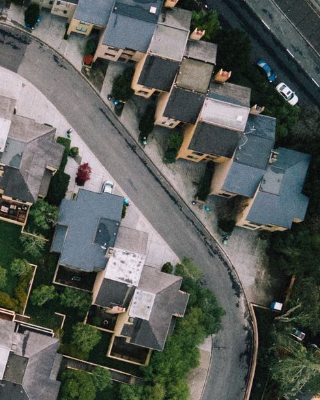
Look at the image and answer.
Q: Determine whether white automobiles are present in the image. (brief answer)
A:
Yes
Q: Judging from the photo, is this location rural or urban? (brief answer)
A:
urban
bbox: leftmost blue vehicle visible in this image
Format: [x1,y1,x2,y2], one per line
[256,57,277,82]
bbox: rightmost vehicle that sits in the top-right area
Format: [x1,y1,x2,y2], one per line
[275,80,299,108]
